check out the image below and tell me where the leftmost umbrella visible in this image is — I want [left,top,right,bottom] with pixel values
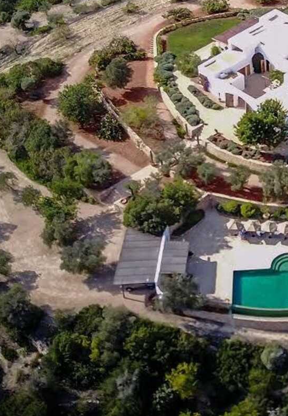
[225,222,243,239]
